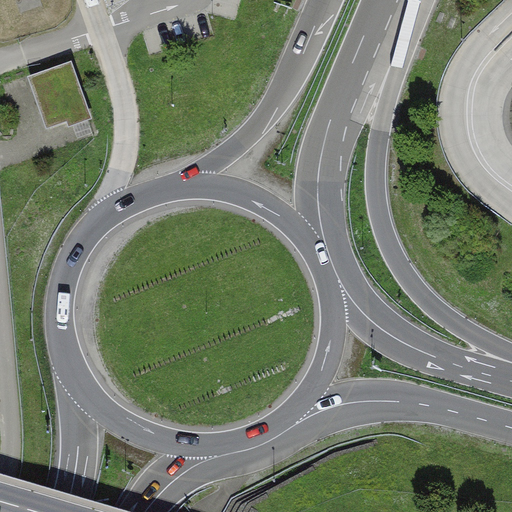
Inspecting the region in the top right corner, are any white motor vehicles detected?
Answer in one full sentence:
Yes, in the top right corner there is a white motor vehicle.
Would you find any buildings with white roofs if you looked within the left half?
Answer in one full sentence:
No, within the left half there is no building with a white roof.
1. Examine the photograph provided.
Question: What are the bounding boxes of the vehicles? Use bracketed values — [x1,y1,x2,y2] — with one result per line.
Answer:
[318,396,342,410]
[56,293,70,330]
[142,481,161,502]
[246,424,268,438]
[167,456,186,476]
[68,244,84,266]
[316,243,328,264]
[172,21,184,44]
[180,166,200,180]
[156,22,170,44]
[392,0,421,68]
[294,31,308,54]
[87,0,99,8]
[176,435,199,446]
[114,196,135,210]
[197,14,210,38]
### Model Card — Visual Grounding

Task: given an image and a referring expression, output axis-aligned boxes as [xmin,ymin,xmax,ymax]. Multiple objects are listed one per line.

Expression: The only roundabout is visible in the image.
[45,171,348,460]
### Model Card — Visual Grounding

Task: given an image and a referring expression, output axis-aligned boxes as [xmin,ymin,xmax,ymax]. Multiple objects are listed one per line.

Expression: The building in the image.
[28,61,91,128]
